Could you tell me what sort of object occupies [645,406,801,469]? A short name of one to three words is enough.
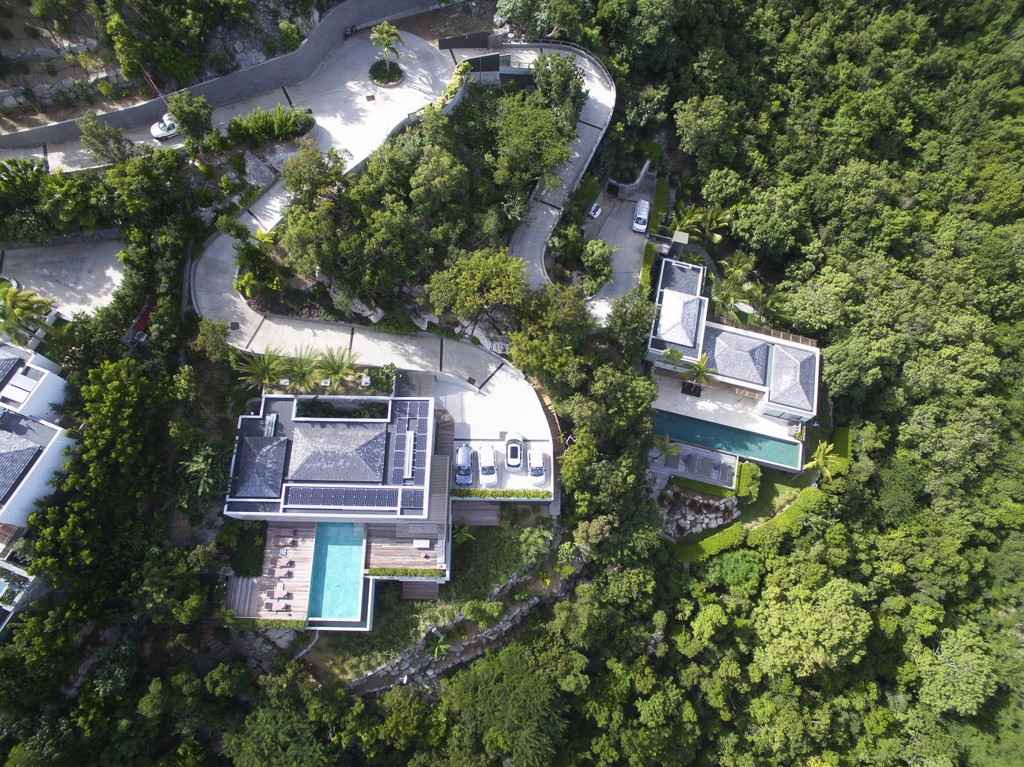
swimming pool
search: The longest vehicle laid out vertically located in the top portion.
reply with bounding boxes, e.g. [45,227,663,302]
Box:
[631,195,651,233]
